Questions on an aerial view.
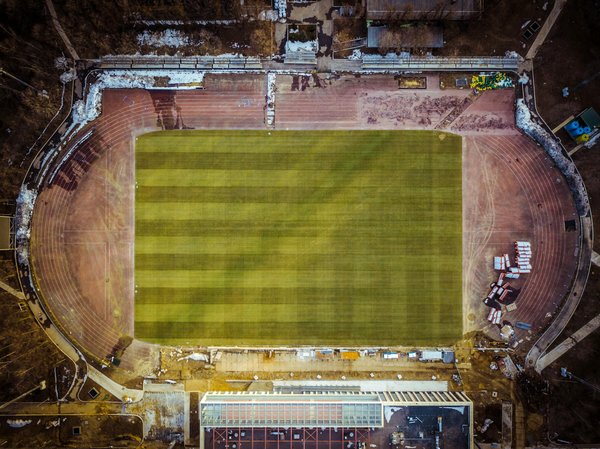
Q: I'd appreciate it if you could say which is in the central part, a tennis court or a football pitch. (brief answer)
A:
football pitch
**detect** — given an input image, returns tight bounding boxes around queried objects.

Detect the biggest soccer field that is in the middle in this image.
[132,128,465,348]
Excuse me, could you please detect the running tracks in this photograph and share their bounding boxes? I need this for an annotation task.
[30,75,580,377]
